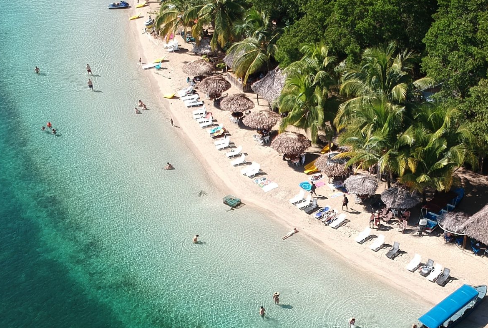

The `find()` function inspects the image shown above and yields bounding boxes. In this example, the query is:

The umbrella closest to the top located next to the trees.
[189,32,221,61]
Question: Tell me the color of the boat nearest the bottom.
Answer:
blue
